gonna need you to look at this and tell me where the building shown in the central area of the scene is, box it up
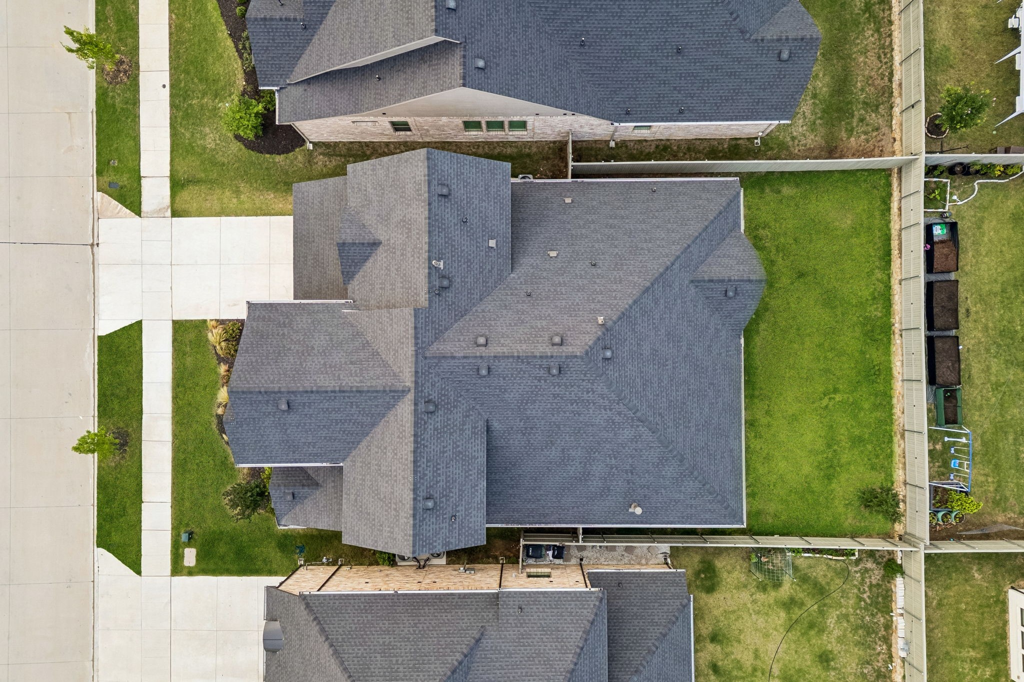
[223,148,765,555]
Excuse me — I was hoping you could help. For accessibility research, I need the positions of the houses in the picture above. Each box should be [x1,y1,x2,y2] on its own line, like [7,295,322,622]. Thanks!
[223,148,765,555]
[1011,588,1024,682]
[246,0,821,147]
[261,559,696,682]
